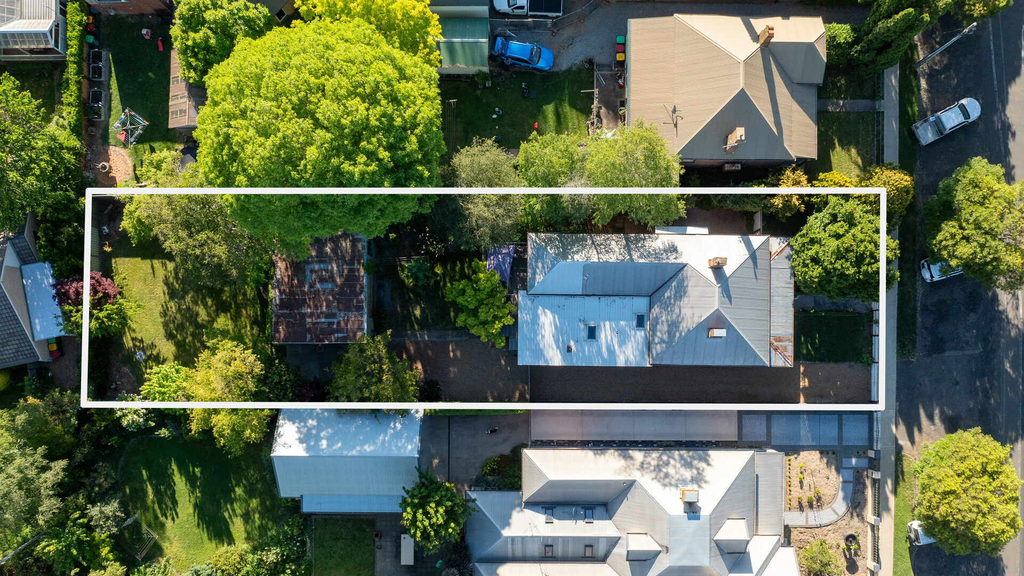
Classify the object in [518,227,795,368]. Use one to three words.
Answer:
house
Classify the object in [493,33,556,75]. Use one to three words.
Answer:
car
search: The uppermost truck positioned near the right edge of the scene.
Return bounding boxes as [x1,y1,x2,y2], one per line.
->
[908,97,984,150]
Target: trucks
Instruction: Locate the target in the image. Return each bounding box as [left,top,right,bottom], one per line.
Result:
[492,0,566,21]
[908,97,984,150]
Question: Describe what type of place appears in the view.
residential area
